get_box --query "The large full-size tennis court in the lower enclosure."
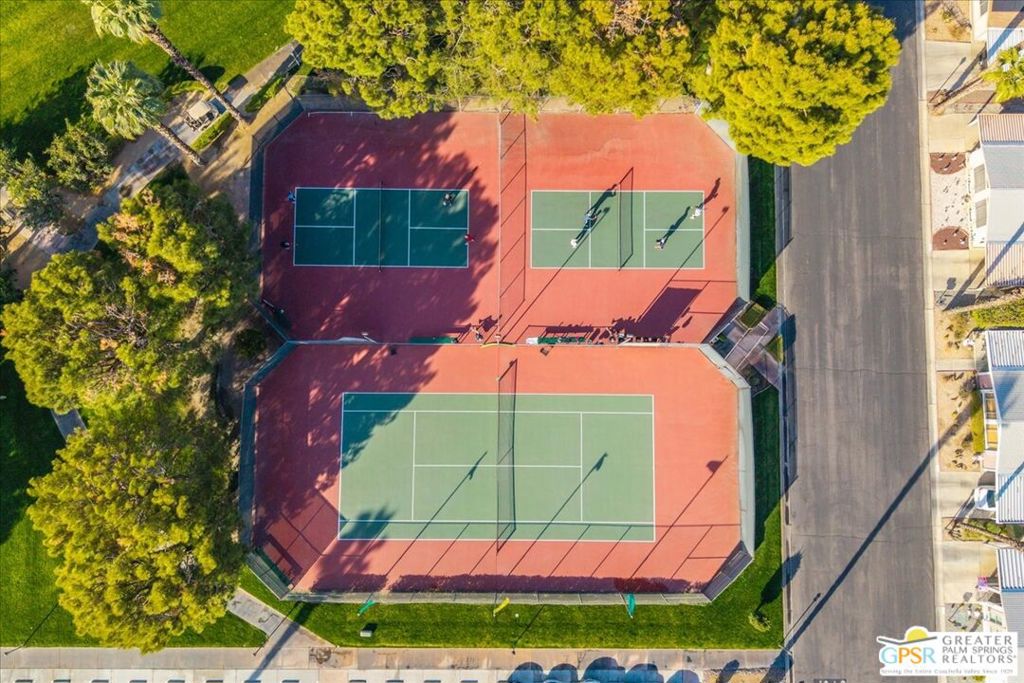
[255,344,742,593]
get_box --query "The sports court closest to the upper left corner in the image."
[263,112,499,343]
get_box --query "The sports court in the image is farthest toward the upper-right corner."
[500,112,737,343]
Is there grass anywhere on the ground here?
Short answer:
Yes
